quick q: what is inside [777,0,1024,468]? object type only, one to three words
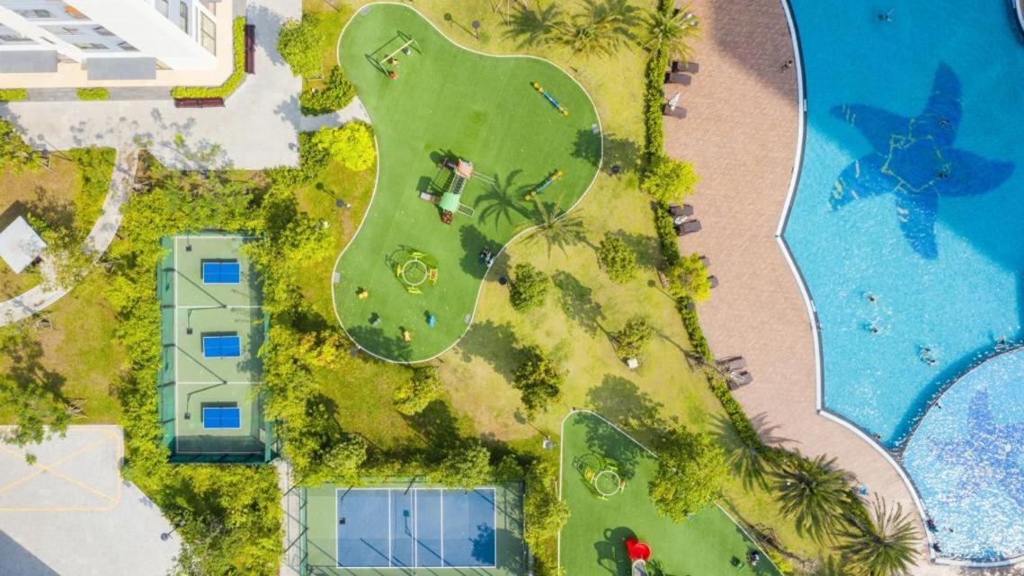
swimming pool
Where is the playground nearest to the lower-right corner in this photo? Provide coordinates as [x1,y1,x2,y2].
[557,410,782,576]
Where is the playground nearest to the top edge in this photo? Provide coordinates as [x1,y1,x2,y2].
[331,1,604,364]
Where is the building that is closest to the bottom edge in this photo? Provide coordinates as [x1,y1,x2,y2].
[0,216,62,273]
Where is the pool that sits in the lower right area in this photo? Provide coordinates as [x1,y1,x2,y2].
[892,338,1024,569]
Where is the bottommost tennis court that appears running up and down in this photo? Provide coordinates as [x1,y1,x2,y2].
[174,232,272,454]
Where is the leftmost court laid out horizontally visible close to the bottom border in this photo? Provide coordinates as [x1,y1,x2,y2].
[299,473,524,576]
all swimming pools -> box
[892,338,1024,569]
[777,0,1024,468]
